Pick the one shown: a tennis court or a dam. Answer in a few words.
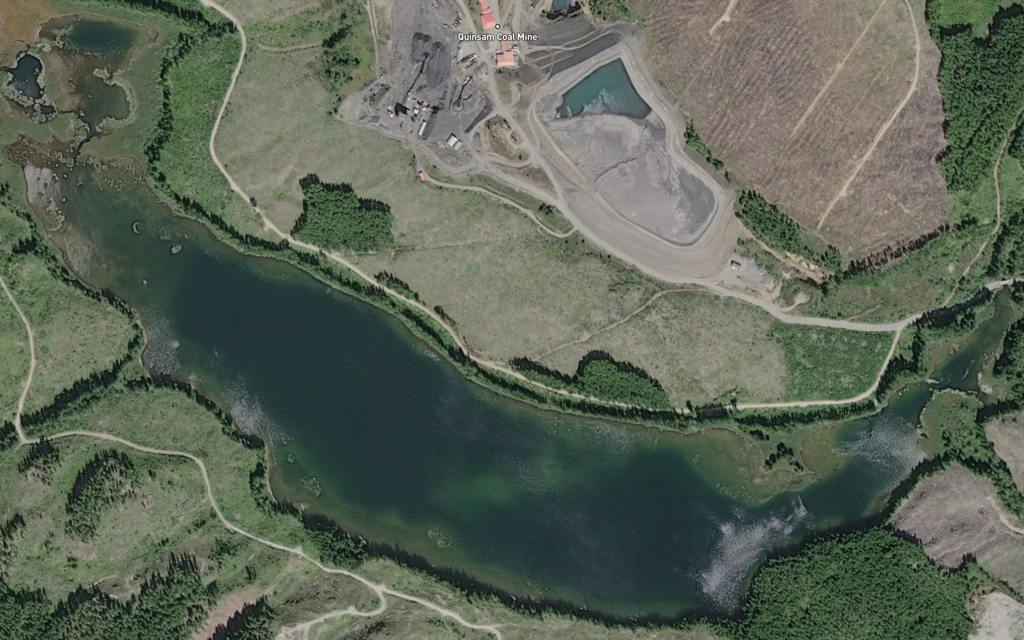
dam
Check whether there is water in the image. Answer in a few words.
Yes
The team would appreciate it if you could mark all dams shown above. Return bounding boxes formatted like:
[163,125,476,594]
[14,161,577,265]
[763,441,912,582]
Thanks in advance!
[530,24,740,280]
